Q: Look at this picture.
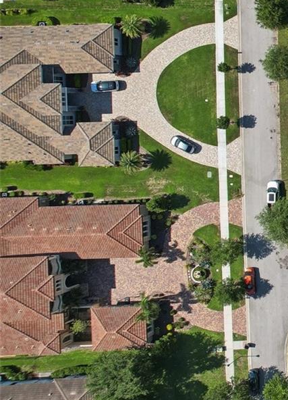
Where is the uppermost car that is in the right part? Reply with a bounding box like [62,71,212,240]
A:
[169,136,195,154]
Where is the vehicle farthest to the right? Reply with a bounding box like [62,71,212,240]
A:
[266,180,279,206]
